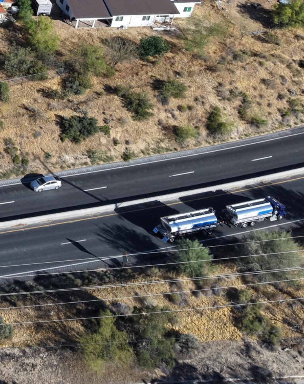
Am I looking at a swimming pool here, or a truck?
truck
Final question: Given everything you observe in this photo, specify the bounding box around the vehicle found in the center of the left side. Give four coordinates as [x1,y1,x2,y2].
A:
[29,174,63,191]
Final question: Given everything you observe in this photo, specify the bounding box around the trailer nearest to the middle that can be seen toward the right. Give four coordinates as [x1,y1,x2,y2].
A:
[150,202,222,240]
